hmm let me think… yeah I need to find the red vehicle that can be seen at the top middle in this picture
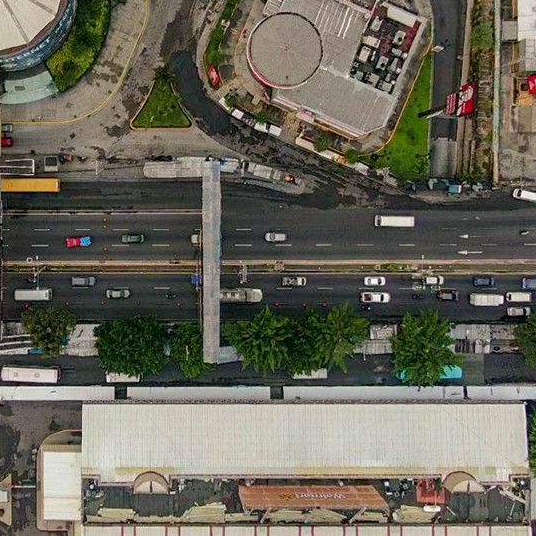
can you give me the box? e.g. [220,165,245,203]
[208,65,222,86]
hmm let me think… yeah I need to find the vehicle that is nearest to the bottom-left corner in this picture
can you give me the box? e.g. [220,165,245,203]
[0,367,59,384]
